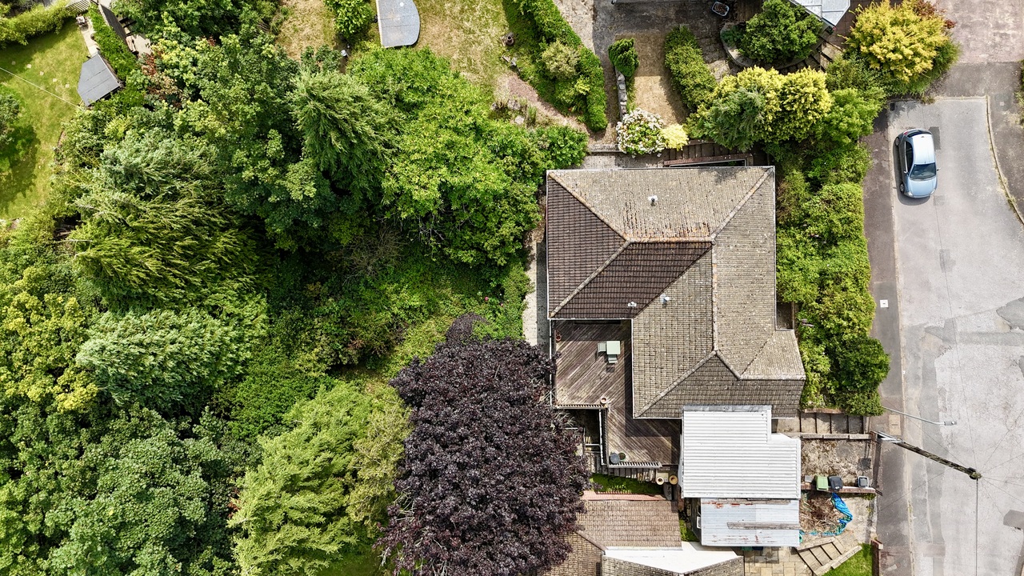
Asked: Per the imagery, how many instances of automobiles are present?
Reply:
1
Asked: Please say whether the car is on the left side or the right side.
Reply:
right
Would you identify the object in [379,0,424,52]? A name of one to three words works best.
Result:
shed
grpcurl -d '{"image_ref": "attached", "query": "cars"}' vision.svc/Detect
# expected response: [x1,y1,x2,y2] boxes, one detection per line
[896,130,942,198]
